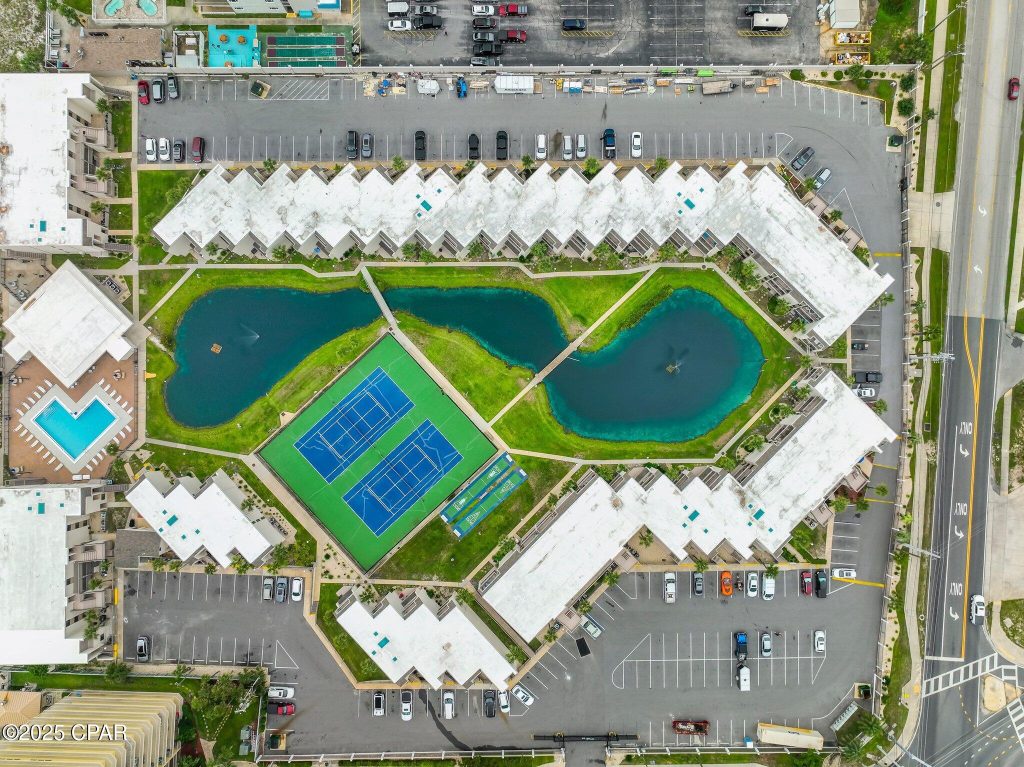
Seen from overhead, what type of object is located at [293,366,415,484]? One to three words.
tennis court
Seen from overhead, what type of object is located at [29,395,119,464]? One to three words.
swimming pool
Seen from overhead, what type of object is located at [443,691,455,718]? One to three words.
vehicle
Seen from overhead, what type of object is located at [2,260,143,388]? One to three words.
building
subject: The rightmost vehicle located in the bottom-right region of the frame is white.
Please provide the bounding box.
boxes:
[969,594,985,625]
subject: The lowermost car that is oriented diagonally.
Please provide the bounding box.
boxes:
[512,683,533,706]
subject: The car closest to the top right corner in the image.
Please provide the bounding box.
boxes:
[1006,77,1020,102]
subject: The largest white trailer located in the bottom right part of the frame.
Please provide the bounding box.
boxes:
[753,720,823,749]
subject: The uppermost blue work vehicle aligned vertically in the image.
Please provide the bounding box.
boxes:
[456,73,468,98]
